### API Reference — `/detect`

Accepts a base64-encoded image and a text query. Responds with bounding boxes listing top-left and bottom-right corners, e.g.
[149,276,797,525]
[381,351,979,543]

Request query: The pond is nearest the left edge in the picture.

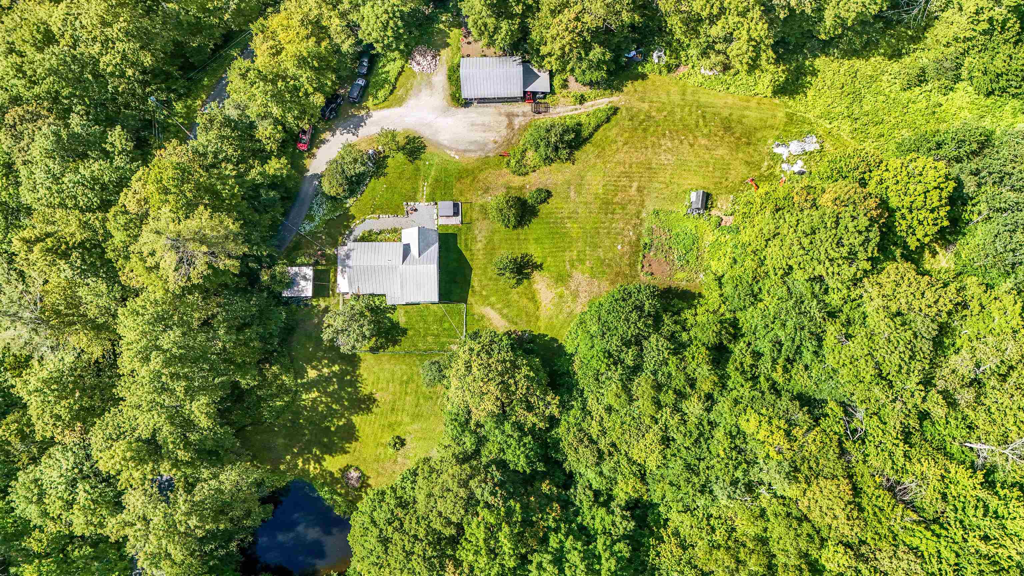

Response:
[241,481,356,576]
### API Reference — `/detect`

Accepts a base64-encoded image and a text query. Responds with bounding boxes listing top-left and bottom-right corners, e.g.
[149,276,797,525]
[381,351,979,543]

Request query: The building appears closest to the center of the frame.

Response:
[337,226,440,304]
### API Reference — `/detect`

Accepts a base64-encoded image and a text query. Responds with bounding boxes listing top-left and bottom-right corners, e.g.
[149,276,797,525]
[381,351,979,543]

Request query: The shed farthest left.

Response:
[282,267,317,296]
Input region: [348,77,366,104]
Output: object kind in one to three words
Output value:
car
